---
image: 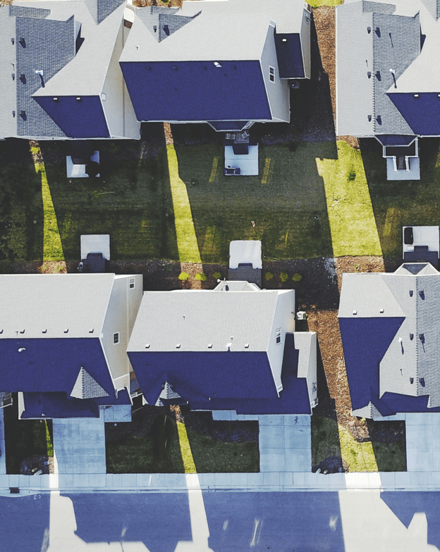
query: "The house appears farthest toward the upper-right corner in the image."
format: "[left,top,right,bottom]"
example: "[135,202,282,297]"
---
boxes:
[336,0,440,147]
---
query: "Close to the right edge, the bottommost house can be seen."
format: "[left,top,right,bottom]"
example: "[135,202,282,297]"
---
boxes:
[338,262,440,422]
